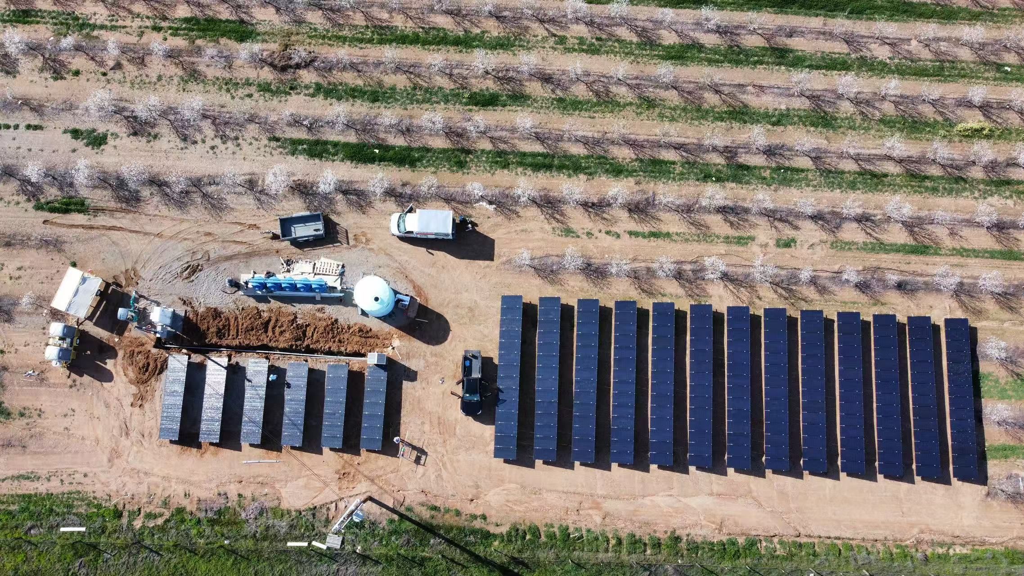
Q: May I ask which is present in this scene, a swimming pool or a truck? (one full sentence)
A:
It is a truck that can be seen here.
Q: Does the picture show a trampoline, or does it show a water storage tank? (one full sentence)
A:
Of the two, only a water storage tank appears.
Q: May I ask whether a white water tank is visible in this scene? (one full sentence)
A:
Yes, the image includes a white water tank.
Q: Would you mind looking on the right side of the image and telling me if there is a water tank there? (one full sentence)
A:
No, no water tank can be made out on the right side of the image.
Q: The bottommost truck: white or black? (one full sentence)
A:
In this view, the bottommost truck is black.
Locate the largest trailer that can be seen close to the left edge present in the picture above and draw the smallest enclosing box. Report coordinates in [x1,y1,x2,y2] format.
[50,267,108,327]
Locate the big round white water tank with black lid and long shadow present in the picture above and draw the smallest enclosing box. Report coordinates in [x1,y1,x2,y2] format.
[353,274,397,316]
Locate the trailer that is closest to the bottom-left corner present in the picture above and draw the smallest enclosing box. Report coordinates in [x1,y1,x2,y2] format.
[45,322,84,376]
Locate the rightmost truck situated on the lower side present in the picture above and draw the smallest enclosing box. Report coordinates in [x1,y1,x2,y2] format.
[450,350,491,414]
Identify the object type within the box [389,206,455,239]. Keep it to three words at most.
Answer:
truck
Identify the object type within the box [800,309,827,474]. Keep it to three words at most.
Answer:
solar array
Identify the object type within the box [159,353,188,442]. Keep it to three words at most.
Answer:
solar array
